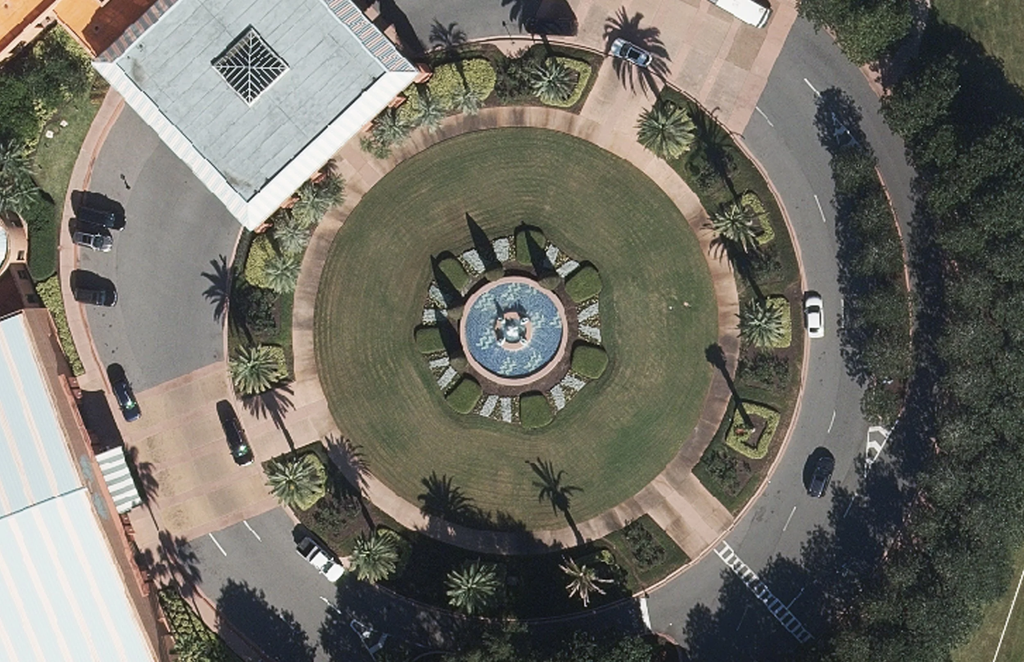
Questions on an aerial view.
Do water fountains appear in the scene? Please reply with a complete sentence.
Yes, you can see a water fountain in this photo.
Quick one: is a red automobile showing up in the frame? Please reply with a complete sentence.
No, I can't see a single red automobile in this photo.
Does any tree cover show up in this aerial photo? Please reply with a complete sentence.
Yes, tree cover can be seen from above here.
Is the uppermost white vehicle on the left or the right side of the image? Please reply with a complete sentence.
It is on the right.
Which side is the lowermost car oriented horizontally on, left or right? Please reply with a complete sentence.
The lowermost car oriented horizontally appears in the left half of the scene.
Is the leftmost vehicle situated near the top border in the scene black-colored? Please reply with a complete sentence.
Yes, the leftmost vehicle situated near the top border appears black.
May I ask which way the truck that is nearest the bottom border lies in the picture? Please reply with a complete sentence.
The truck that is nearest the bottom border has been laid out on a diagonal relative to the frame.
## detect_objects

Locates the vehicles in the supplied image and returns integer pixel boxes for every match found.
[297,540,344,583]
[611,40,654,68]
[220,418,254,467]
[71,230,114,252]
[710,0,776,31]
[527,15,577,35]
[811,456,836,500]
[74,287,120,308]
[111,378,141,424]
[78,207,126,230]
[806,297,825,339]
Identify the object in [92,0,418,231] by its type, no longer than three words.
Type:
building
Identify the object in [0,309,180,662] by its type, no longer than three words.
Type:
building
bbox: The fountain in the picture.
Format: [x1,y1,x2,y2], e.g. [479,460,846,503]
[459,276,568,385]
